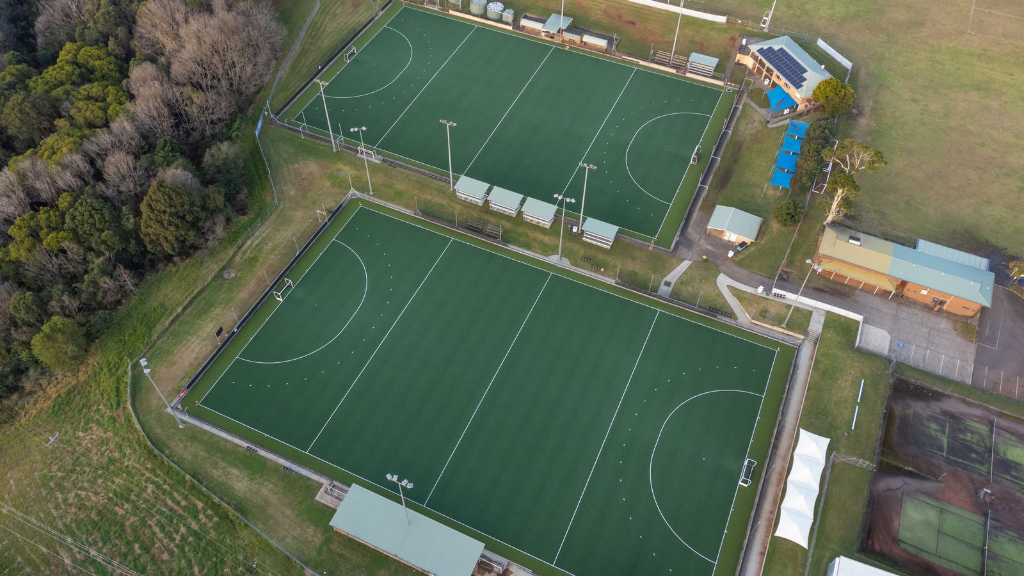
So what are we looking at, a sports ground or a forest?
sports ground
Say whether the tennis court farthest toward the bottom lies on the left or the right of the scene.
right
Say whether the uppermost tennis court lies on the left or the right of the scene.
right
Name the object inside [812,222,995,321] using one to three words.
building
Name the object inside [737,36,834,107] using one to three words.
building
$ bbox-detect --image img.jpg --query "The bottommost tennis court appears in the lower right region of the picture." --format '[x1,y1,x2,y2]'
[894,486,1024,576]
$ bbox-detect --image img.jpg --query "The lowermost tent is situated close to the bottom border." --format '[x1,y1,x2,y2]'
[772,429,830,552]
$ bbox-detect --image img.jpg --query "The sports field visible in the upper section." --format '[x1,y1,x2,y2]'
[278,0,737,248]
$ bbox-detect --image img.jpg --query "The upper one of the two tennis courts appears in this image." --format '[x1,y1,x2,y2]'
[902,404,1024,500]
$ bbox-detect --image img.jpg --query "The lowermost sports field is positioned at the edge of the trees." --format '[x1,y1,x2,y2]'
[178,195,798,576]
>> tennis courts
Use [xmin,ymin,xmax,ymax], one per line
[894,486,1024,576]
[902,404,1024,500]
